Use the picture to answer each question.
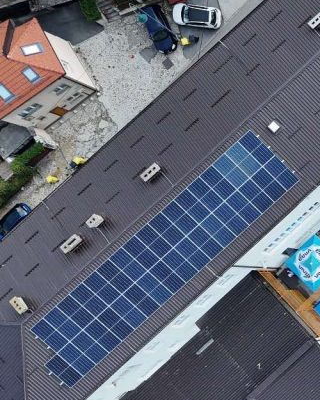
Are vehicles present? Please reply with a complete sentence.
Yes, a vehicle can be made out from above.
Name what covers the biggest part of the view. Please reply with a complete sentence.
The largest share of the image is taken up by buildings.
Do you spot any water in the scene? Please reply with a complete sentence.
No, the scene doesn't show any water.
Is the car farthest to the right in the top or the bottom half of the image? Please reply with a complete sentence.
You can find the car farthest to the right in the top half.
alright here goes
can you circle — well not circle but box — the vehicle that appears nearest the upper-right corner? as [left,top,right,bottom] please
[172,0,224,33]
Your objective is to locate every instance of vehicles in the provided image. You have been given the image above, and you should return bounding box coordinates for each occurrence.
[141,6,179,58]
[172,0,224,33]
[0,199,34,236]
